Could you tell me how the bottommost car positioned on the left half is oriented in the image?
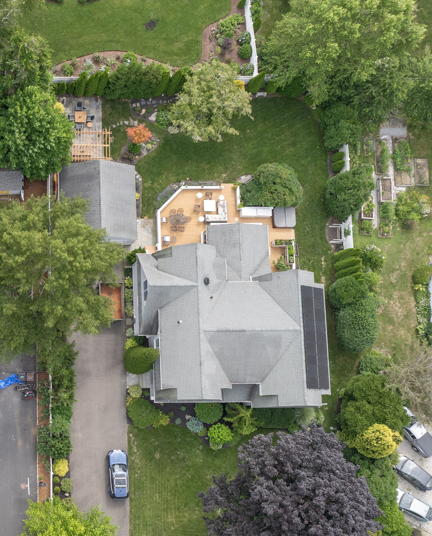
up and down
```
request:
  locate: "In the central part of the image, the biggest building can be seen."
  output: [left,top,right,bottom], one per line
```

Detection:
[132,223,332,409]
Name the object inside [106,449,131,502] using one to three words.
car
